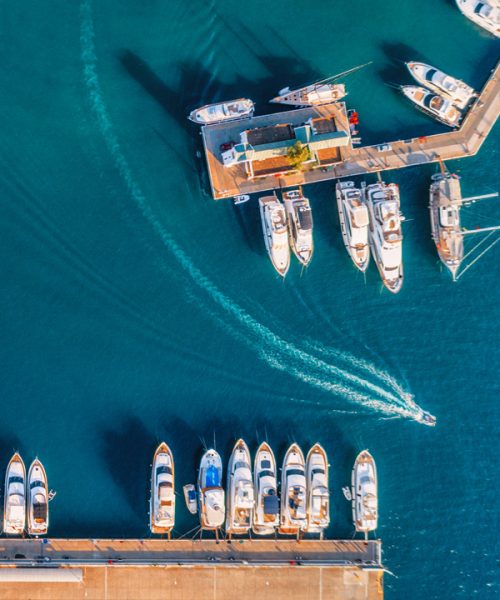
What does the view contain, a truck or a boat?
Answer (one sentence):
This aerial view contains a boat.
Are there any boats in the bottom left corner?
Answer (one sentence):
Yes, in the bottom left corner there is a boat.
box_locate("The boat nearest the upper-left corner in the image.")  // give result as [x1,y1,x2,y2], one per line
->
[188,96,254,127]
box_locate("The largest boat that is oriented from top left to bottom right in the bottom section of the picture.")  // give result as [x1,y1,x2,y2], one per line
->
[420,411,436,423]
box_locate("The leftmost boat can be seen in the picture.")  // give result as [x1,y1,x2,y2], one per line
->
[2,439,27,541]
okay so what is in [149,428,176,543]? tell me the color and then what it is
white boat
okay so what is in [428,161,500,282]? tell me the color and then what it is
white boat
